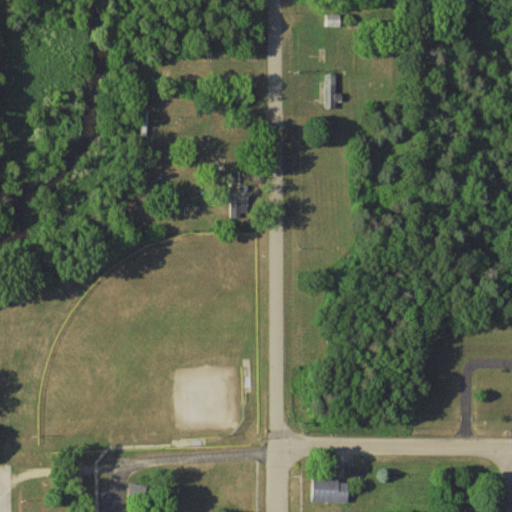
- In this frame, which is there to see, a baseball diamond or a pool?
baseball diamond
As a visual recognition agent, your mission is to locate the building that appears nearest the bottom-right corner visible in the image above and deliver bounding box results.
[312,480,348,503]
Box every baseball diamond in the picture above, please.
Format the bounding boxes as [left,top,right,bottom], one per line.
[38,233,258,446]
